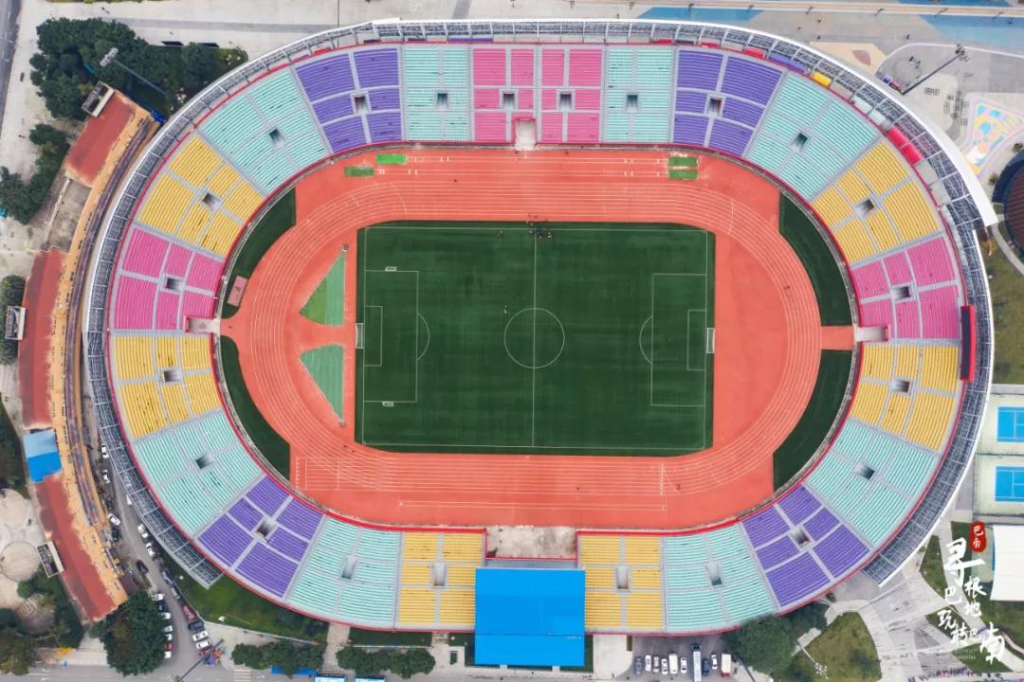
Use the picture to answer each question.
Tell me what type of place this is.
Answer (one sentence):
This image shows a sports ground.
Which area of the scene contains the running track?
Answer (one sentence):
The running track sits in the center section of the image.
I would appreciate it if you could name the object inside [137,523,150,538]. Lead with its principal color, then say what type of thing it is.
white vehicle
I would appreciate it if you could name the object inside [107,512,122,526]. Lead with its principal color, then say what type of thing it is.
white car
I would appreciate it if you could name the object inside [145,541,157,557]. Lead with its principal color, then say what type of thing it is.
white vehicle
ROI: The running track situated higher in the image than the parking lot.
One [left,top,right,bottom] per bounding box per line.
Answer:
[219,149,854,528]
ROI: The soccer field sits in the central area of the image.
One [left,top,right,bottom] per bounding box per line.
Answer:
[356,220,715,455]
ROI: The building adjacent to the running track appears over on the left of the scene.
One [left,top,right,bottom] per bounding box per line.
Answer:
[5,81,159,623]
